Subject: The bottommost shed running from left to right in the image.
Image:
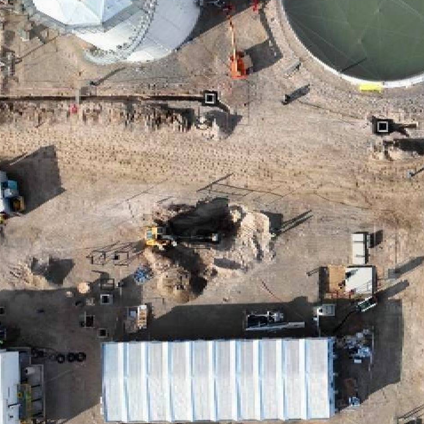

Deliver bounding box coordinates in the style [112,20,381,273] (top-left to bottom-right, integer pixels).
[101,335,337,424]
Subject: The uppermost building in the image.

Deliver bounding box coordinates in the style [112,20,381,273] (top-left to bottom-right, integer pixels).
[353,234,366,264]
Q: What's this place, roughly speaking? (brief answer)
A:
industrial area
